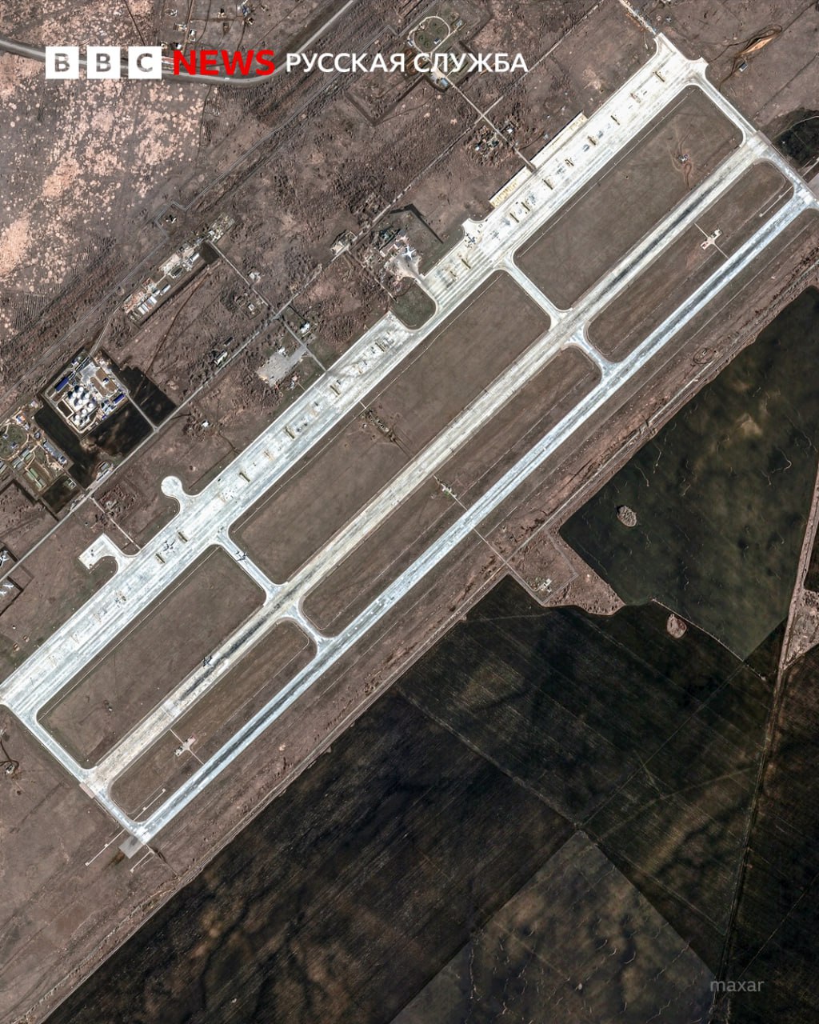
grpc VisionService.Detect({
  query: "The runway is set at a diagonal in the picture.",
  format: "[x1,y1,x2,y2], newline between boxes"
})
[85,132,769,787]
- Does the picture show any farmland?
Yes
